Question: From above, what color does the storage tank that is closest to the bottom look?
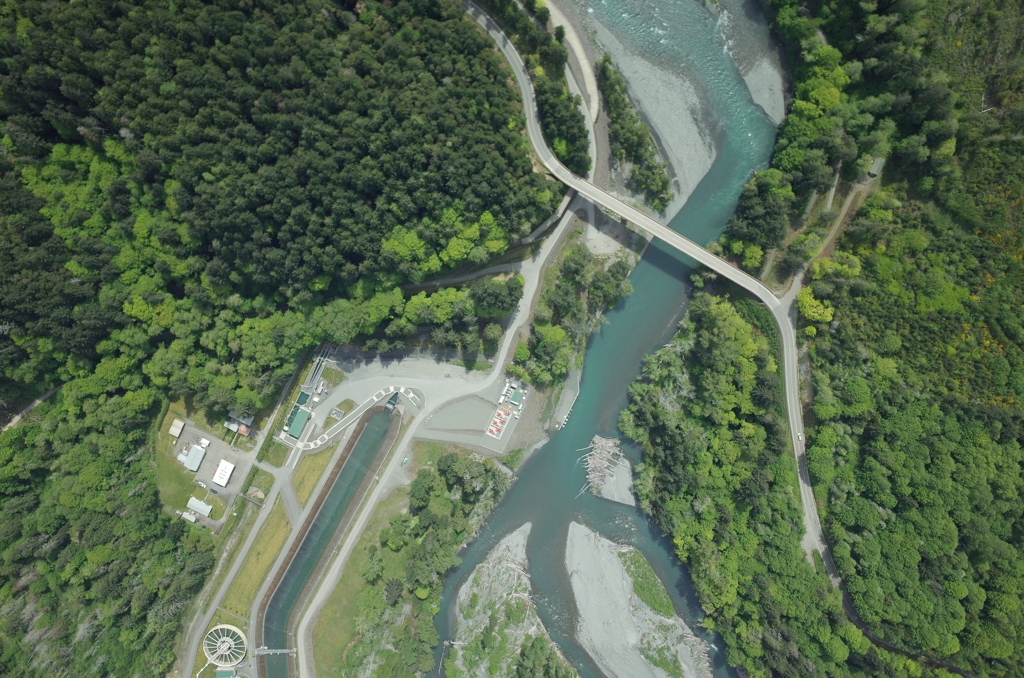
white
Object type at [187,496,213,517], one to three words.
house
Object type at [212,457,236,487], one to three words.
building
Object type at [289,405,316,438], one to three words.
building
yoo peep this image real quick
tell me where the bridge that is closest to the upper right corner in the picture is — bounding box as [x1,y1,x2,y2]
[542,153,785,315]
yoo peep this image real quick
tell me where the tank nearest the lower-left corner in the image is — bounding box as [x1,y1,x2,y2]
[196,623,249,678]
